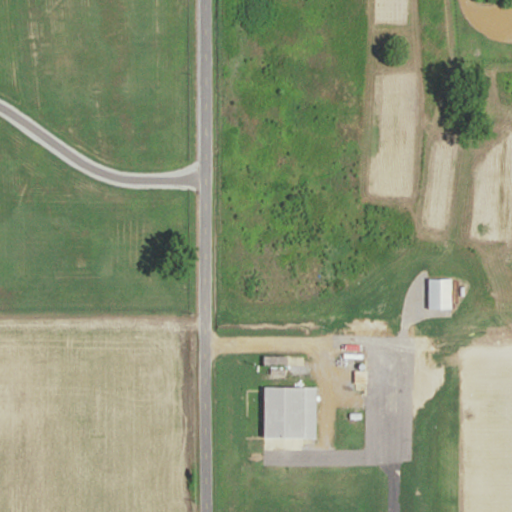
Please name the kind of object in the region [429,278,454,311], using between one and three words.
house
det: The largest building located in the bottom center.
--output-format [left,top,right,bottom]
[264,388,317,440]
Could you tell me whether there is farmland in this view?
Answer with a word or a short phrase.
Yes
